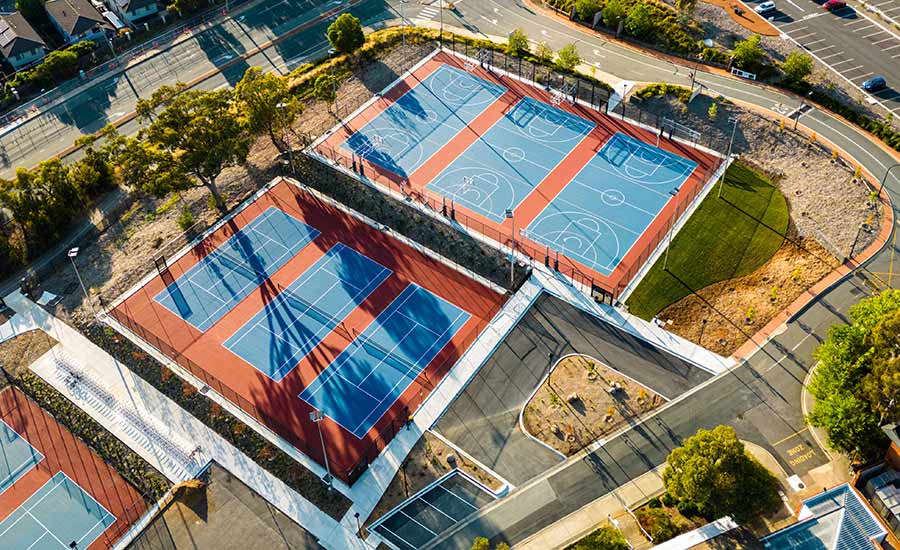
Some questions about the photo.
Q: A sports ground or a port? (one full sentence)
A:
The picture captures a sports ground.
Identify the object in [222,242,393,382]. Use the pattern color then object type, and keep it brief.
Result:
blue tennis court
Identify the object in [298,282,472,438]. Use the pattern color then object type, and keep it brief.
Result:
blue tennis court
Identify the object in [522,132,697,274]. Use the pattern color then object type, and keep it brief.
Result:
blue basketball court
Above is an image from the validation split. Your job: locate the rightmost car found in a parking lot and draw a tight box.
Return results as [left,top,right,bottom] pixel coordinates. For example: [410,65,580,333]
[863,76,887,92]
